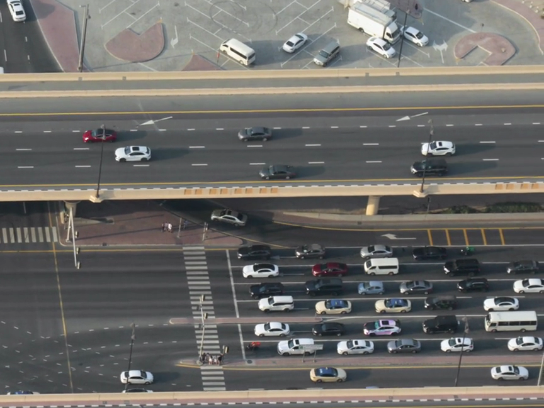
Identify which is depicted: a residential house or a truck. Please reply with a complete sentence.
The image shows a truck.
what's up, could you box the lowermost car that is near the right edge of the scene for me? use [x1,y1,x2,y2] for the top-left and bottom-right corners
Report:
[491,366,529,382]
